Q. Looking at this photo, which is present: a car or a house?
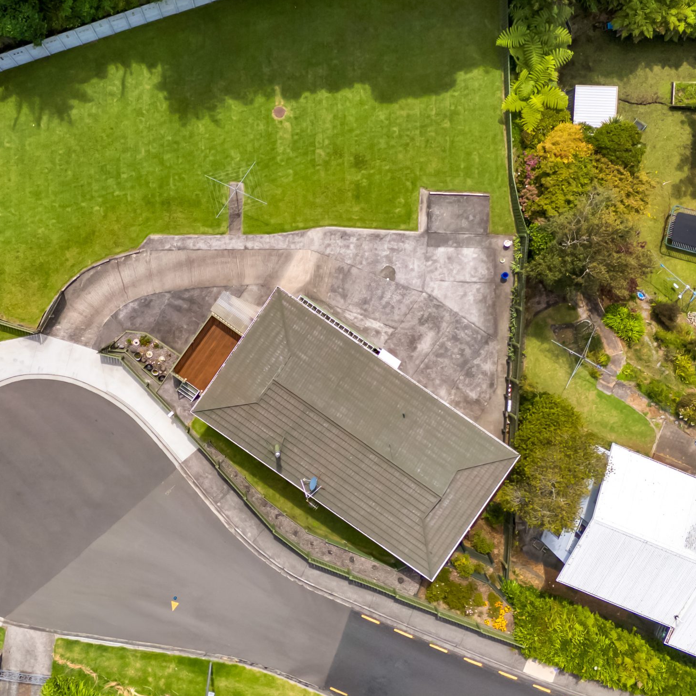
house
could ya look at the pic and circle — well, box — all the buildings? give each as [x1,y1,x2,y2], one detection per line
[547,442,696,659]
[562,85,623,131]
[191,286,522,583]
